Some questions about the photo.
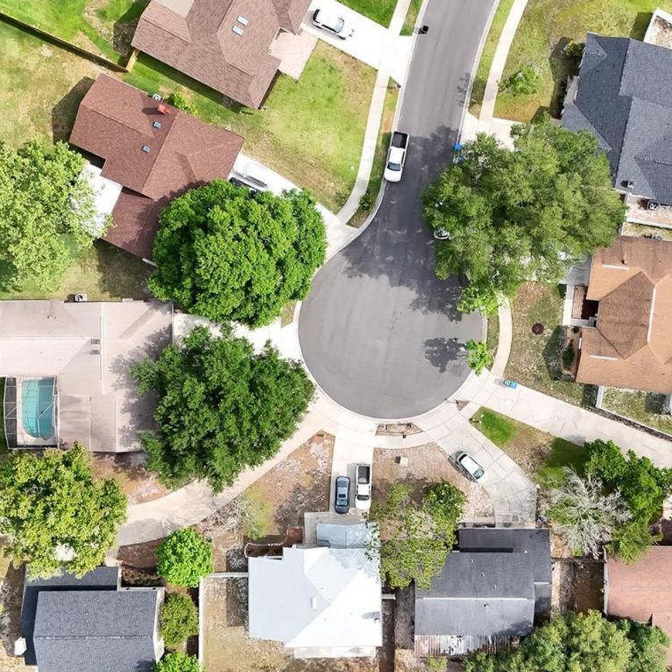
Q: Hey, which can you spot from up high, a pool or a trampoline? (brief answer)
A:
pool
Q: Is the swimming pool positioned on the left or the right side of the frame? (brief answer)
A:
left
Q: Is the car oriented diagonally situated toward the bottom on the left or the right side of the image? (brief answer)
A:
right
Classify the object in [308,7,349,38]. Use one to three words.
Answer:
car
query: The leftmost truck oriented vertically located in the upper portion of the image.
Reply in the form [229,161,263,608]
[384,130,406,182]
